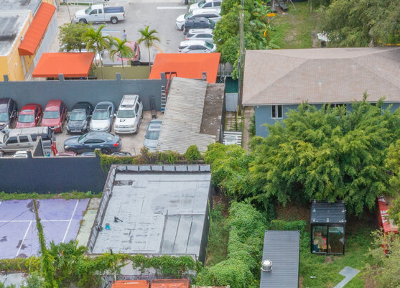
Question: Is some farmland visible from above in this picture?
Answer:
No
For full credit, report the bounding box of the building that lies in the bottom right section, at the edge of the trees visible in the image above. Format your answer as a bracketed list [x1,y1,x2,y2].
[309,201,345,256]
